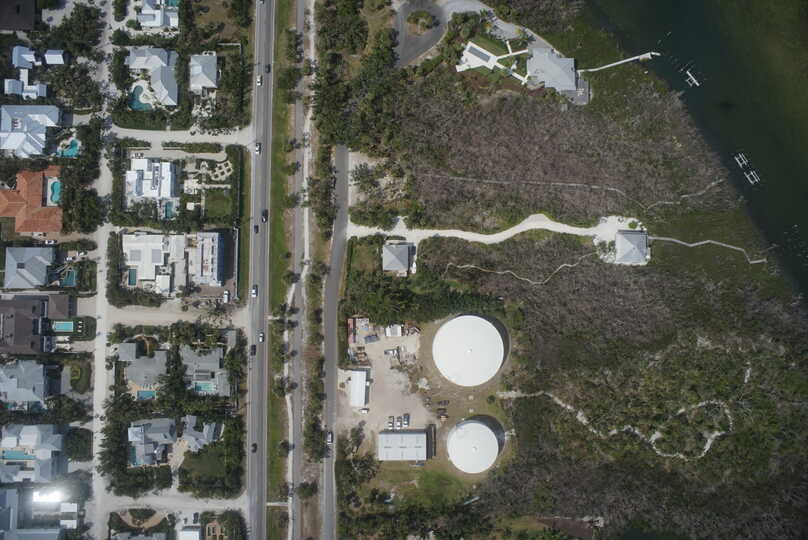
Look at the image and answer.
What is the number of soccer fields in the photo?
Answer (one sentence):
There are no soccer fields in the image.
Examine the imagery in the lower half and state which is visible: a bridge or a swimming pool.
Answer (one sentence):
Visible in the lower half is a swimming pool.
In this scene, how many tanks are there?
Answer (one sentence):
I count 2 tanks.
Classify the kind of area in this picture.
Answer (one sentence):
It's a residential area.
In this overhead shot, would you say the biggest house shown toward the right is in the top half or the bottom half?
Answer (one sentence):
The biggest house shown toward the right sits in the top half of the picture.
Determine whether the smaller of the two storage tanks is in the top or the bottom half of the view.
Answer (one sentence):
The smaller of the two storage tanks sits in the bottom half of the picture.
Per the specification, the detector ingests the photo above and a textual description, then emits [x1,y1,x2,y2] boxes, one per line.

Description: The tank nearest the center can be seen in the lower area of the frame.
[432,314,504,387]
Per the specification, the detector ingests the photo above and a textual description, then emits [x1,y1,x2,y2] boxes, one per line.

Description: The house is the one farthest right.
[613,231,649,264]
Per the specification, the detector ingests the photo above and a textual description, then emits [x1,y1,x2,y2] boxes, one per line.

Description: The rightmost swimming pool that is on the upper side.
[456,41,529,84]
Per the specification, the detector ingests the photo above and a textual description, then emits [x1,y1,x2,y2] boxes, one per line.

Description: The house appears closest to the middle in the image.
[383,243,409,275]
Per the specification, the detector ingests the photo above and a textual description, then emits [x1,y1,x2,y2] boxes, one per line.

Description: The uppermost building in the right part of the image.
[528,47,588,103]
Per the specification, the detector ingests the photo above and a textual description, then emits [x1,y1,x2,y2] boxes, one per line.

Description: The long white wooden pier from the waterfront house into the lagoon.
[578,51,662,73]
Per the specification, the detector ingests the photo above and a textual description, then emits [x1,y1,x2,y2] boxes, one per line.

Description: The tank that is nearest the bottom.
[447,418,499,474]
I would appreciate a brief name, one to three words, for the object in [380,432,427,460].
building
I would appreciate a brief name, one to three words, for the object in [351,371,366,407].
shed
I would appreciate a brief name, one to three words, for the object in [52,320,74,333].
swimming pool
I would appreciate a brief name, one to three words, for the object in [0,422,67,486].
house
